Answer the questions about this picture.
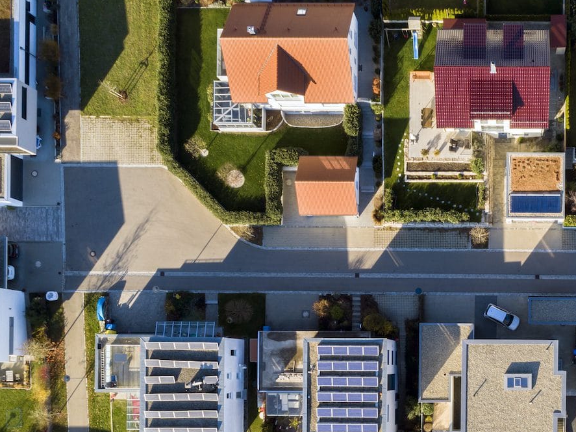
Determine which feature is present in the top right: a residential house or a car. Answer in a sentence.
The feature located in the top right is a residential house.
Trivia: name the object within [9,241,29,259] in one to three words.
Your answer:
car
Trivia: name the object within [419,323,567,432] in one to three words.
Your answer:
house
